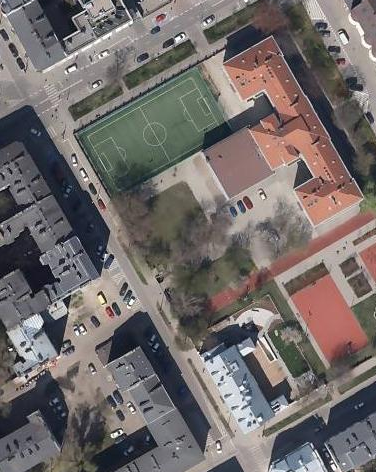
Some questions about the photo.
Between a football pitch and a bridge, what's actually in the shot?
football pitch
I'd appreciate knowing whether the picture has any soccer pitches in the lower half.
No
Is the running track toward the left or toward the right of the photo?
right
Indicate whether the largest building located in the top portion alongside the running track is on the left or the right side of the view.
right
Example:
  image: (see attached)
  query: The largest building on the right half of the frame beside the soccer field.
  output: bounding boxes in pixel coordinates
[223,33,366,229]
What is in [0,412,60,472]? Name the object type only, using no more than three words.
house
